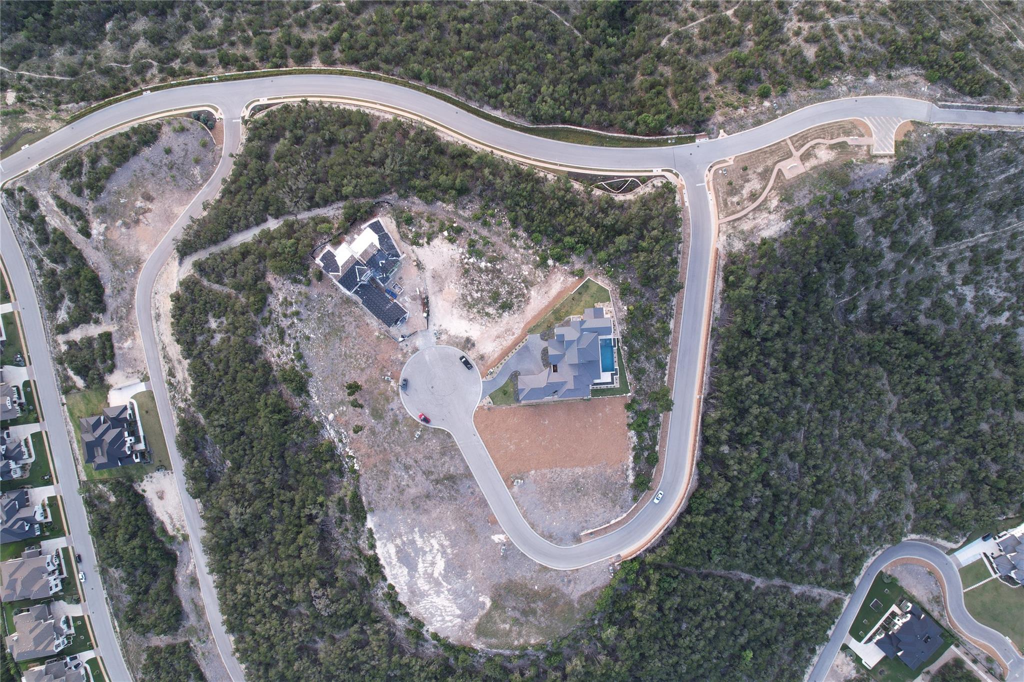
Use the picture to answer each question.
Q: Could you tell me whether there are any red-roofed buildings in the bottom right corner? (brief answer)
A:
No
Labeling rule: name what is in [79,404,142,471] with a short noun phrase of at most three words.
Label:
house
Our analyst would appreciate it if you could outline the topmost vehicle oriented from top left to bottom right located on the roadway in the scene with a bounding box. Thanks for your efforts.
[458,355,473,371]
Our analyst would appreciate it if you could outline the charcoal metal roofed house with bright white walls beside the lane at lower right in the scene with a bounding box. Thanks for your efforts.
[868,597,948,674]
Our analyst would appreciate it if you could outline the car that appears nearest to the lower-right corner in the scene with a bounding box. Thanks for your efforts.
[981,532,996,544]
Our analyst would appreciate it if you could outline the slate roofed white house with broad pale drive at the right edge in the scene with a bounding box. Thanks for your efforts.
[987,524,1024,585]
